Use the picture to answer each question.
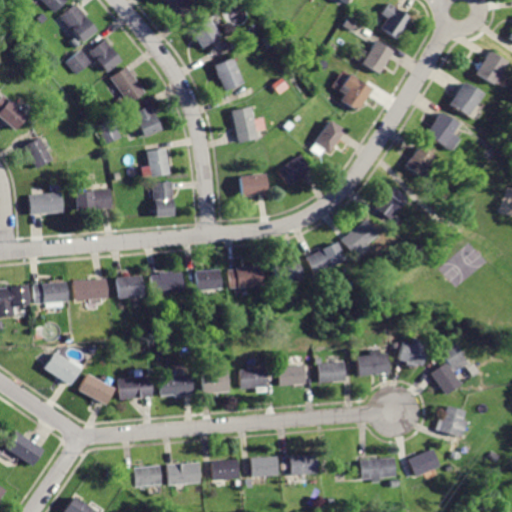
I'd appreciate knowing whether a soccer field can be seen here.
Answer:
No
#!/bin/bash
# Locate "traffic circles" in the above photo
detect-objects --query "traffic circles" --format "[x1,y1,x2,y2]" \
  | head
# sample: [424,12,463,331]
[434,0,486,36]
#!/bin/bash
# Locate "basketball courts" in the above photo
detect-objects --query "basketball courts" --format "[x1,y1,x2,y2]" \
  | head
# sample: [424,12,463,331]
[440,244,485,287]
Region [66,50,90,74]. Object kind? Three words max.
building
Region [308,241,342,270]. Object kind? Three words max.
house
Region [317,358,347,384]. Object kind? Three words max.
house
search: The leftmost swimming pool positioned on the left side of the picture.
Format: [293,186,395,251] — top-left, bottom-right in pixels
[40,322,62,342]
